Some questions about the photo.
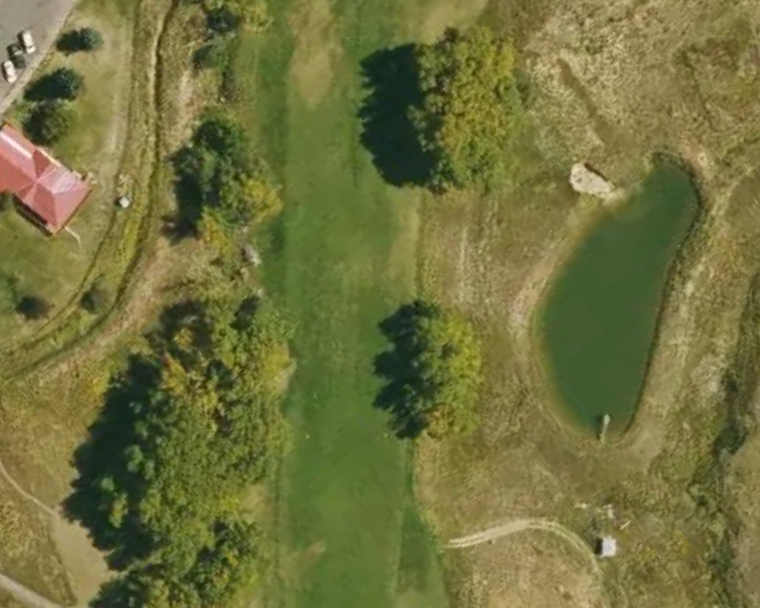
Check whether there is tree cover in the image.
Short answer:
Yes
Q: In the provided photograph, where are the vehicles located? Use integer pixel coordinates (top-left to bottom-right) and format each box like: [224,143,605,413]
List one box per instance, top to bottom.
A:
[20,29,34,54]
[9,41,24,67]
[1,60,15,83]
